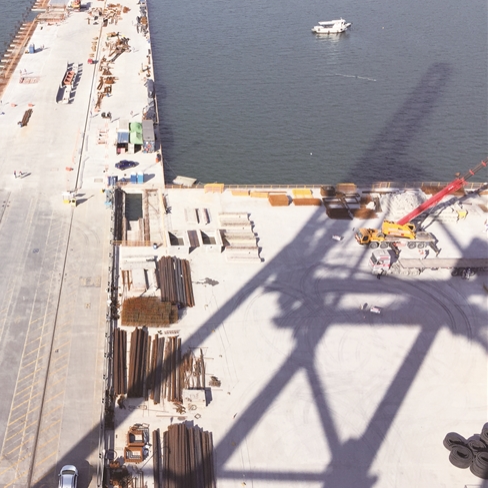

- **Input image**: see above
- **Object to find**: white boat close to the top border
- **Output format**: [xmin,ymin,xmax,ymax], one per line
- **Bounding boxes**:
[313,17,354,34]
